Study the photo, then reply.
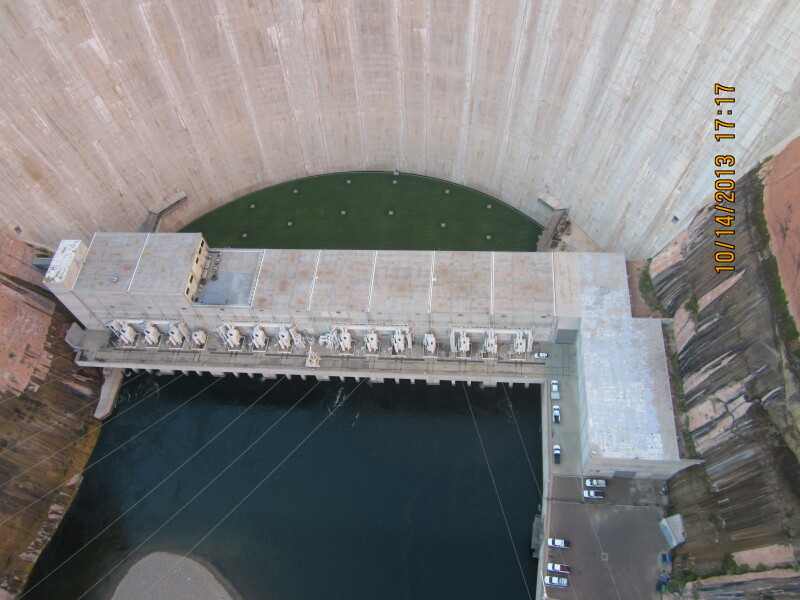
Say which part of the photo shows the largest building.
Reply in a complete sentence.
The largest building sits in the center section of the image.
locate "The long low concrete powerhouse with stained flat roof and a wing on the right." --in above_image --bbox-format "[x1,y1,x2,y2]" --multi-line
[41,230,705,481]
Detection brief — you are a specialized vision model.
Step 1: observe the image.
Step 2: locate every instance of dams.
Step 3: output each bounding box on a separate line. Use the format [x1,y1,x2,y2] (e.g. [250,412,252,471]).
[0,0,800,292]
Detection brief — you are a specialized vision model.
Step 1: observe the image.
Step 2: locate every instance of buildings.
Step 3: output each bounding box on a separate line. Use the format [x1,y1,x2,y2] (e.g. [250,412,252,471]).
[657,516,686,552]
[41,230,705,481]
